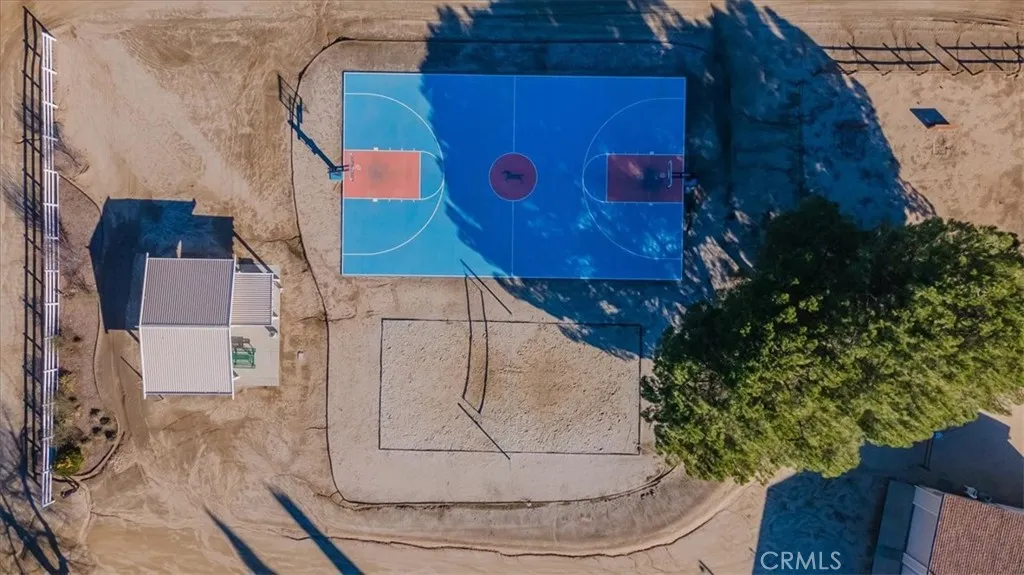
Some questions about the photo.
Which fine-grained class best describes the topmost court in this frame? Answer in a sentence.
The topmost court is a basketball court.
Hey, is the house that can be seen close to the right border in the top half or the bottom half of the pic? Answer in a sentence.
The house that can be seen close to the right border is in the bottom half of the image.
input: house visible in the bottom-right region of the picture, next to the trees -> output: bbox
[859,476,1024,575]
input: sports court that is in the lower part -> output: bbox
[378,318,642,456]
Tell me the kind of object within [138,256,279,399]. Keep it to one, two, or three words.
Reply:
barn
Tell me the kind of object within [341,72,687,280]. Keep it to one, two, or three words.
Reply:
basketball court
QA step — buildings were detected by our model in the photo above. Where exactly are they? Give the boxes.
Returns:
[138,256,279,399]
[859,476,1024,575]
